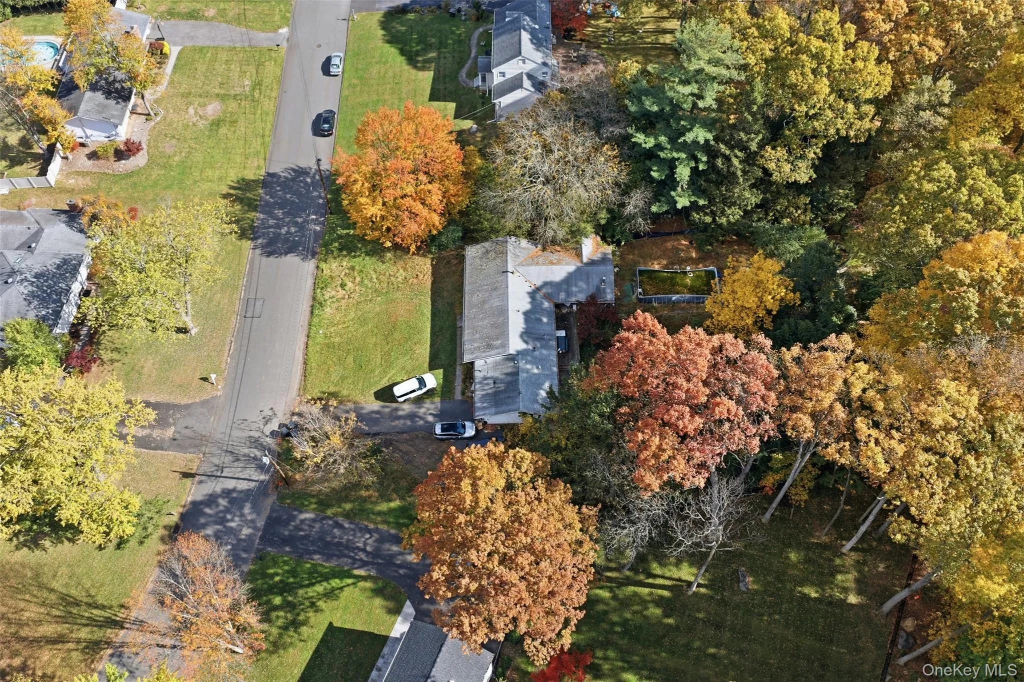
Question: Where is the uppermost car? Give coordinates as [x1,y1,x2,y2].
[328,54,344,78]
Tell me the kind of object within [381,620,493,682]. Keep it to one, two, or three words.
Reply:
house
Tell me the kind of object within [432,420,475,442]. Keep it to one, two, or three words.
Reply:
car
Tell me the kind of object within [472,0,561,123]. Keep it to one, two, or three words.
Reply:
house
